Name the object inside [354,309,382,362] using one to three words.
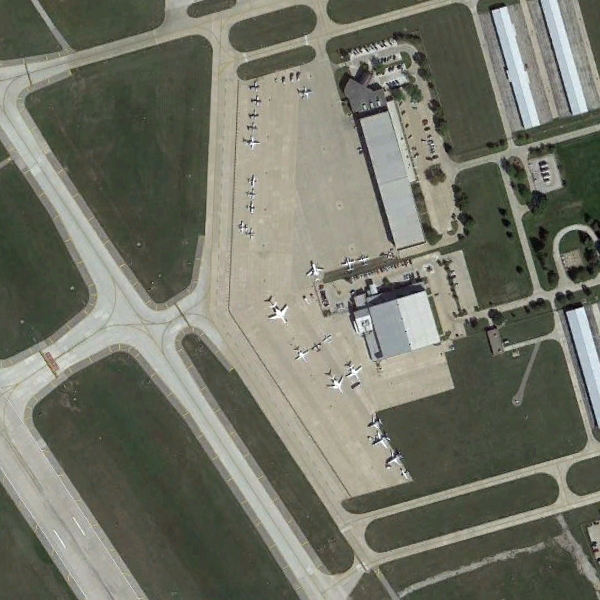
building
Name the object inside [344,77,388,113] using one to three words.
building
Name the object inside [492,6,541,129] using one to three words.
hangar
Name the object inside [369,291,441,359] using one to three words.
hangar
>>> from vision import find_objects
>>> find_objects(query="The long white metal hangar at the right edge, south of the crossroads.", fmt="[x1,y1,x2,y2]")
[566,306,600,431]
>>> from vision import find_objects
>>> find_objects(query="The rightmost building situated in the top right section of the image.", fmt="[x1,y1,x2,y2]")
[541,0,589,115]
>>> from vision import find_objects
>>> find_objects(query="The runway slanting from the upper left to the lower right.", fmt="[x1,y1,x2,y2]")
[0,386,141,600]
